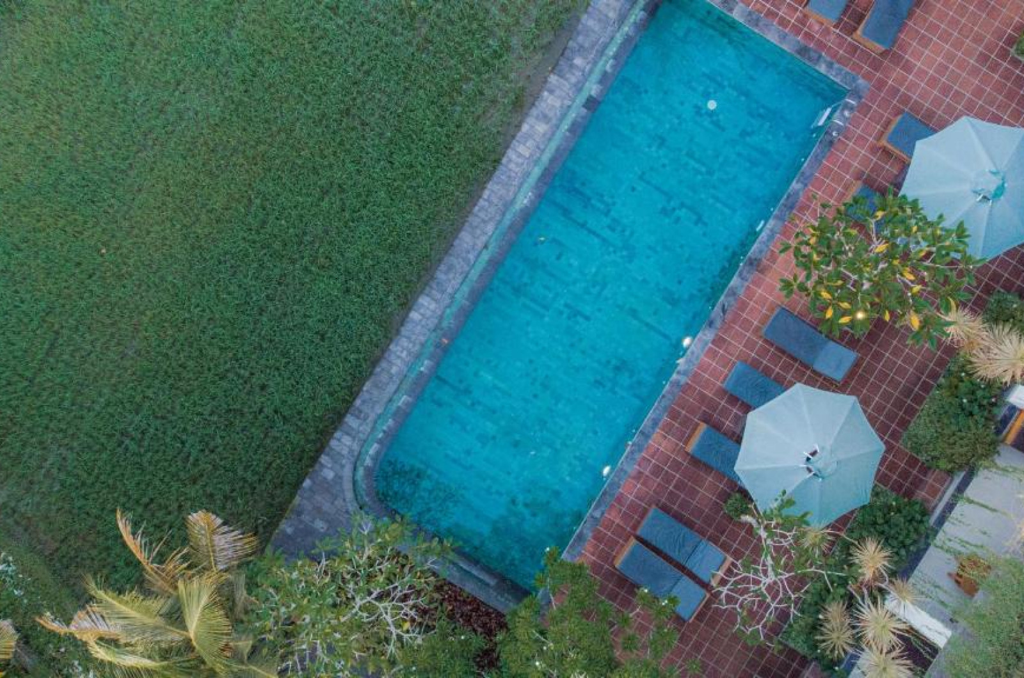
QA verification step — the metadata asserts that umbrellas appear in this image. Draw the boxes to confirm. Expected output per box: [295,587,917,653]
[733,382,884,530]
[898,113,1024,264]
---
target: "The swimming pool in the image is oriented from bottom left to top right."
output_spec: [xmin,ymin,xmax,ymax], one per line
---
[379,0,848,594]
